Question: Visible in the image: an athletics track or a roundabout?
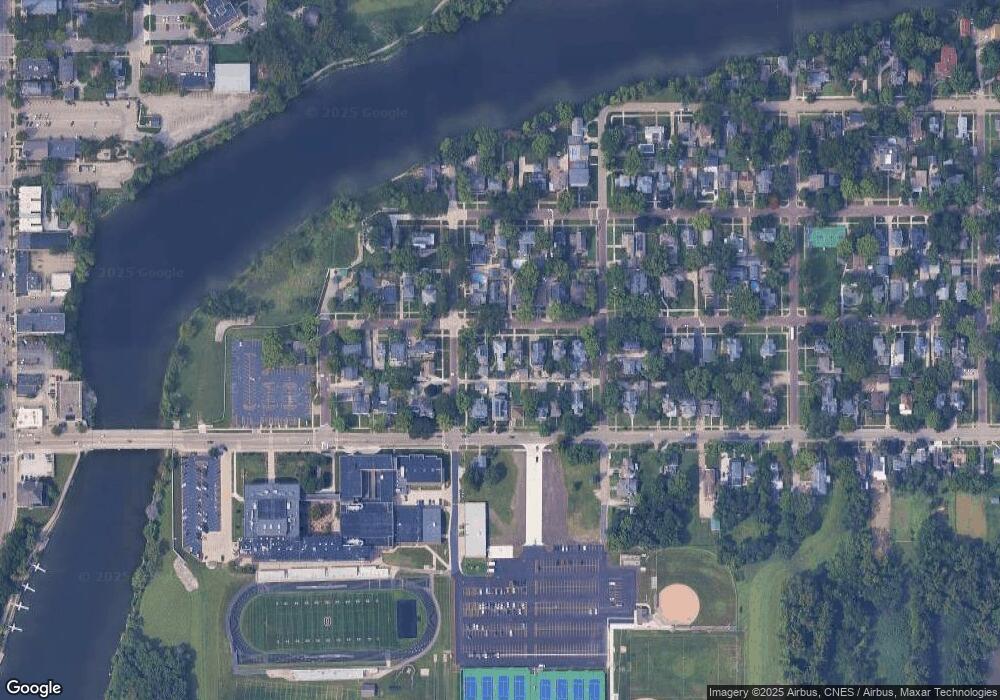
athletics track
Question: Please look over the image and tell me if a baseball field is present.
Yes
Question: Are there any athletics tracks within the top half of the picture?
No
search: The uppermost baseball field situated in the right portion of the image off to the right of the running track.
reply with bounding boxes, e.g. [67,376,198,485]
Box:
[650,548,737,628]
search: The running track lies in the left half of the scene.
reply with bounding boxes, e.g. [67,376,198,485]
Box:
[228,577,438,674]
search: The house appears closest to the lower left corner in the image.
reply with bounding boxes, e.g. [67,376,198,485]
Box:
[16,478,48,508]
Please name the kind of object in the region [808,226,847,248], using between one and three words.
sports court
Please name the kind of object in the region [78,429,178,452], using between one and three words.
bridge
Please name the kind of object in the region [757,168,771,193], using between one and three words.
house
